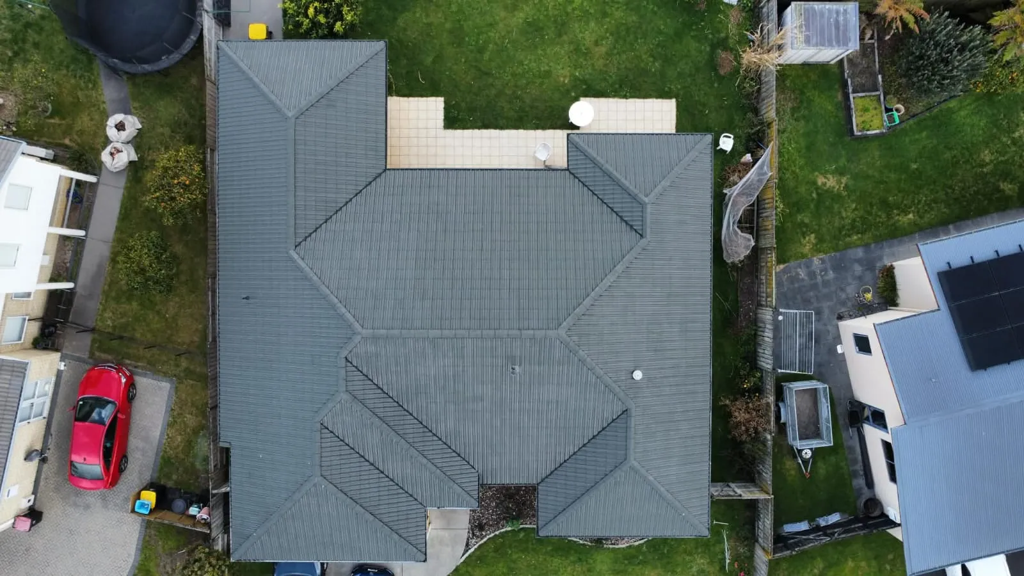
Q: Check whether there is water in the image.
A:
No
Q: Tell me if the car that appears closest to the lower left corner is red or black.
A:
red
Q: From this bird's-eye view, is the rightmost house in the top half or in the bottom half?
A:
bottom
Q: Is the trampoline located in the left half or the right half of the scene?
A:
left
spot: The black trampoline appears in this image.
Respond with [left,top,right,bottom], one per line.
[43,0,203,78]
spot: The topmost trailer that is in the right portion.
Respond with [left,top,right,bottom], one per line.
[775,382,833,482]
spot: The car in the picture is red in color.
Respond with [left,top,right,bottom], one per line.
[65,363,139,494]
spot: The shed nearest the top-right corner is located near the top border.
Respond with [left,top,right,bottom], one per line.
[776,1,860,67]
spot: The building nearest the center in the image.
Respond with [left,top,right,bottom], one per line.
[215,38,715,564]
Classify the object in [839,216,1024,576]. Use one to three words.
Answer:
house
